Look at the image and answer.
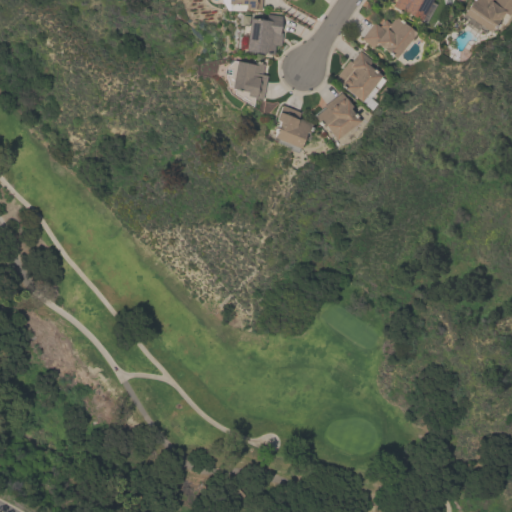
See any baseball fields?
No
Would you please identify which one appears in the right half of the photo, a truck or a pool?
pool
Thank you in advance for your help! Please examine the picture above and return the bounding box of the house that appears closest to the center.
[274,102,314,152]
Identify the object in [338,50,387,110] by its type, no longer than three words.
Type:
house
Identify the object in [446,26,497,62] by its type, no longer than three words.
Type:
swimming pool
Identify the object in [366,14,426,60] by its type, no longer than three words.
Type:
house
